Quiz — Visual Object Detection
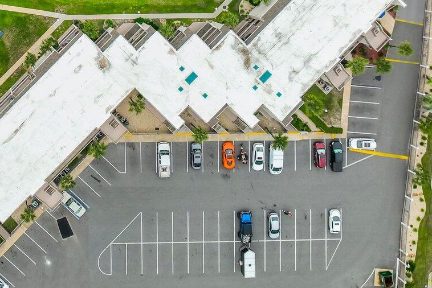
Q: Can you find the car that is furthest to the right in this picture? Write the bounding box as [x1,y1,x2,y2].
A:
[348,137,376,151]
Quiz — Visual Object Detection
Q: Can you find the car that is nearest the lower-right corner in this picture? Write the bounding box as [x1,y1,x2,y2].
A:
[327,207,342,233]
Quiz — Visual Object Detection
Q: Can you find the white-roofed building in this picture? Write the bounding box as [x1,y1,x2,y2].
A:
[0,0,406,223]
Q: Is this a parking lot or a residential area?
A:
parking lot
